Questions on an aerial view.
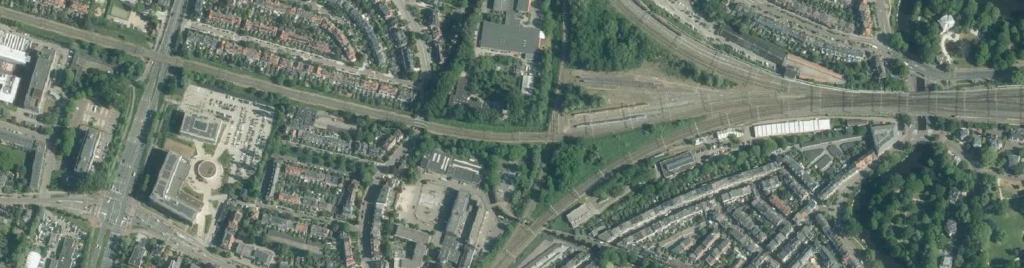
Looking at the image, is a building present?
Yes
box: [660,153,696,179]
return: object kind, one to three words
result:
building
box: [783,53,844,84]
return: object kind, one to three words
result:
building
